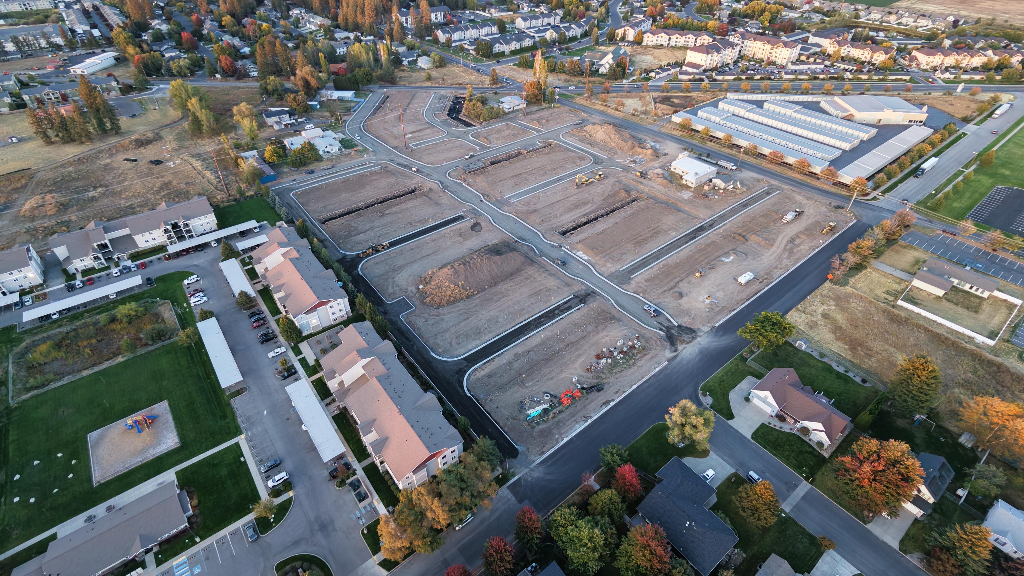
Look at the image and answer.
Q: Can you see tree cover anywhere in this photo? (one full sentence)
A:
Yes, there is tree cover in the image.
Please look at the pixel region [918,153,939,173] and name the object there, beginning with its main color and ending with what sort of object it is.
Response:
white vehicle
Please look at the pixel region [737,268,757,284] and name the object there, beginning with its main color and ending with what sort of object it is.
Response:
white vehicle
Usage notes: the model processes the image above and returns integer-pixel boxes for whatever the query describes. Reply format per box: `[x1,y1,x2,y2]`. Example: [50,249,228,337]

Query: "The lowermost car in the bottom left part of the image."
[241,519,257,542]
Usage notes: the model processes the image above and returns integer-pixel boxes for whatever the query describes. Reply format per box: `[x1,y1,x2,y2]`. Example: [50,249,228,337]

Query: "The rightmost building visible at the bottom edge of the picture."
[982,499,1024,563]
